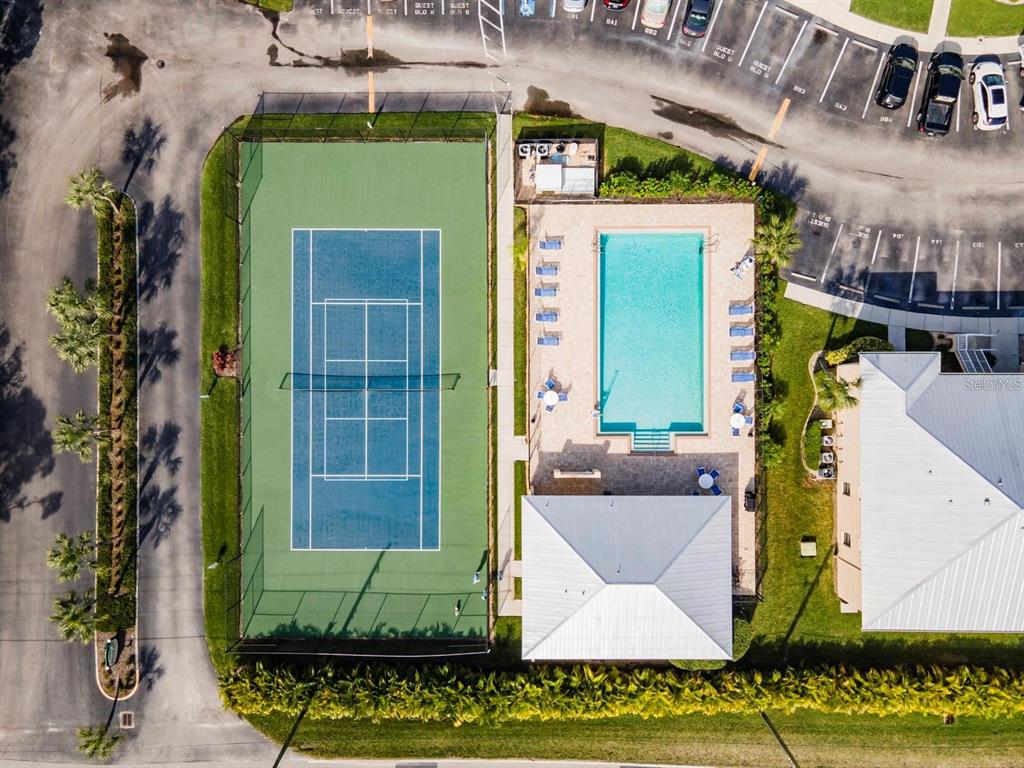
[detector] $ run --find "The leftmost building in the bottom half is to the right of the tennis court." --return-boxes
[521,495,733,662]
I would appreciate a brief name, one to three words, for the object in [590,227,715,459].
swimming pool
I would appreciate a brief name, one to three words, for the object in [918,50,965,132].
truck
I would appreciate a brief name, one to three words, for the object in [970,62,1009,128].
car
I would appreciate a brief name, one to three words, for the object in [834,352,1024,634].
building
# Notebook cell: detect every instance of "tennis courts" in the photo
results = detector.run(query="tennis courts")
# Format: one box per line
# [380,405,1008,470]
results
[241,141,488,639]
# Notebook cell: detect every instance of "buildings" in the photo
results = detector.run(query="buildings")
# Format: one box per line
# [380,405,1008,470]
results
[564,168,594,194]
[521,495,733,662]
[834,352,1024,634]
[536,165,561,194]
